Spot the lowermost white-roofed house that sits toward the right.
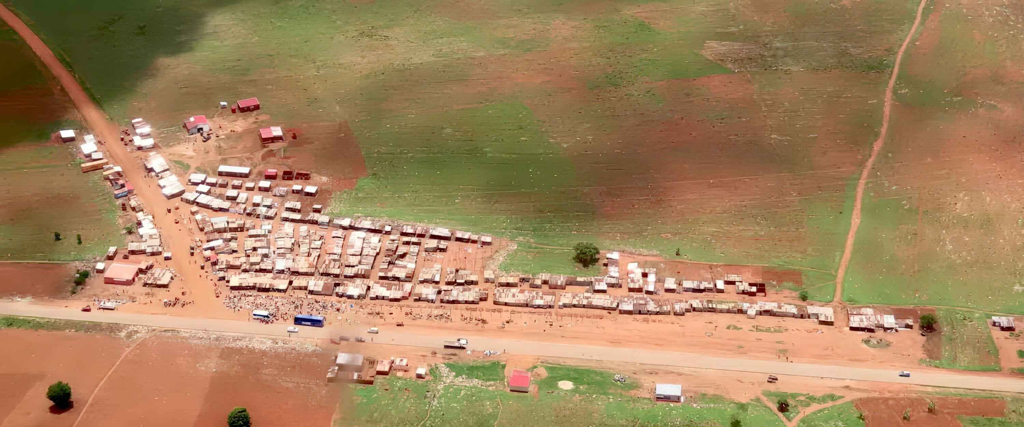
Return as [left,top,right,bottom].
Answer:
[656,384,681,403]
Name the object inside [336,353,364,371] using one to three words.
house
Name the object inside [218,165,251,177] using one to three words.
house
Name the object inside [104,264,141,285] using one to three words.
building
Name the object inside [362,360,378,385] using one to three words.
shed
